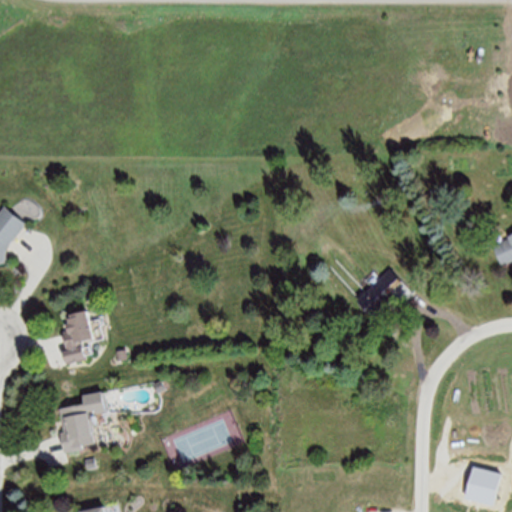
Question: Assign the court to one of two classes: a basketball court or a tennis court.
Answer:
tennis court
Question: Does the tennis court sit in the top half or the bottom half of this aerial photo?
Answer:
bottom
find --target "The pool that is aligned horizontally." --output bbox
[121,390,150,404]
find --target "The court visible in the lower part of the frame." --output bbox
[162,410,244,472]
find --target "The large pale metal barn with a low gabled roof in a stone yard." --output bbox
[465,468,501,507]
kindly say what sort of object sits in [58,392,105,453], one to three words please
house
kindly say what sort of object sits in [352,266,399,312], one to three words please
house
